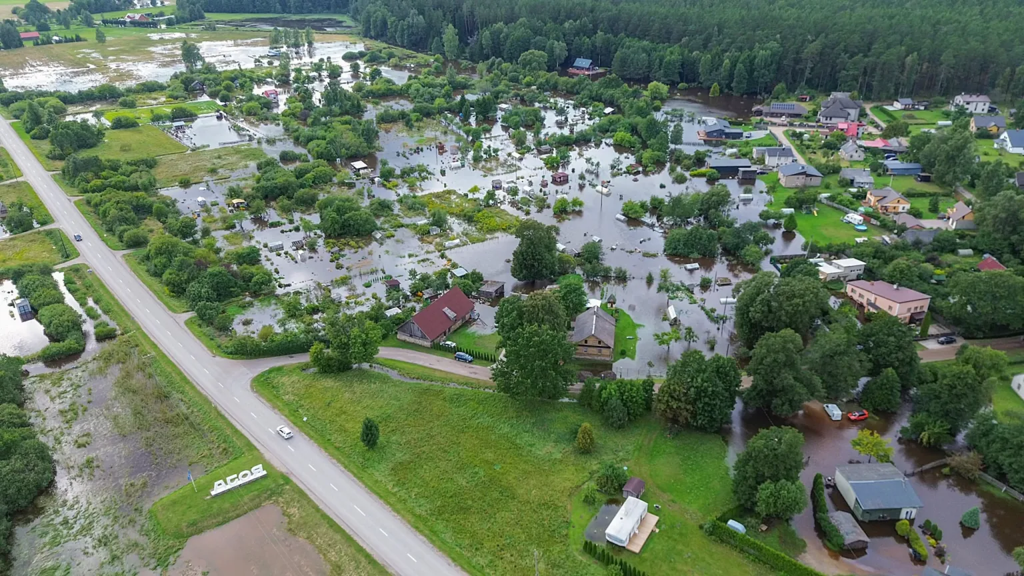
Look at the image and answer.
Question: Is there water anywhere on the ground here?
Yes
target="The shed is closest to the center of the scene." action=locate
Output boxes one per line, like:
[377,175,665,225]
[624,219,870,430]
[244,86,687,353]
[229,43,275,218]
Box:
[480,278,504,301]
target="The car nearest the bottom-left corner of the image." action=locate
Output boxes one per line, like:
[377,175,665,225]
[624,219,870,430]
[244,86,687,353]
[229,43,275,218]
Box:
[276,425,293,439]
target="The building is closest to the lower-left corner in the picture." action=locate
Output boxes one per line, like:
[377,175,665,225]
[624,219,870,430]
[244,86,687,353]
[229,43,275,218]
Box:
[9,299,32,321]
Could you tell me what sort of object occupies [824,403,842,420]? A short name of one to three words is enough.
vehicle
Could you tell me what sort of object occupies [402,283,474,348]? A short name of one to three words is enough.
barn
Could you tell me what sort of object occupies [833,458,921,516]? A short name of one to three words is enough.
shed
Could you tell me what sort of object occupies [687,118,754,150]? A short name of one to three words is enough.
house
